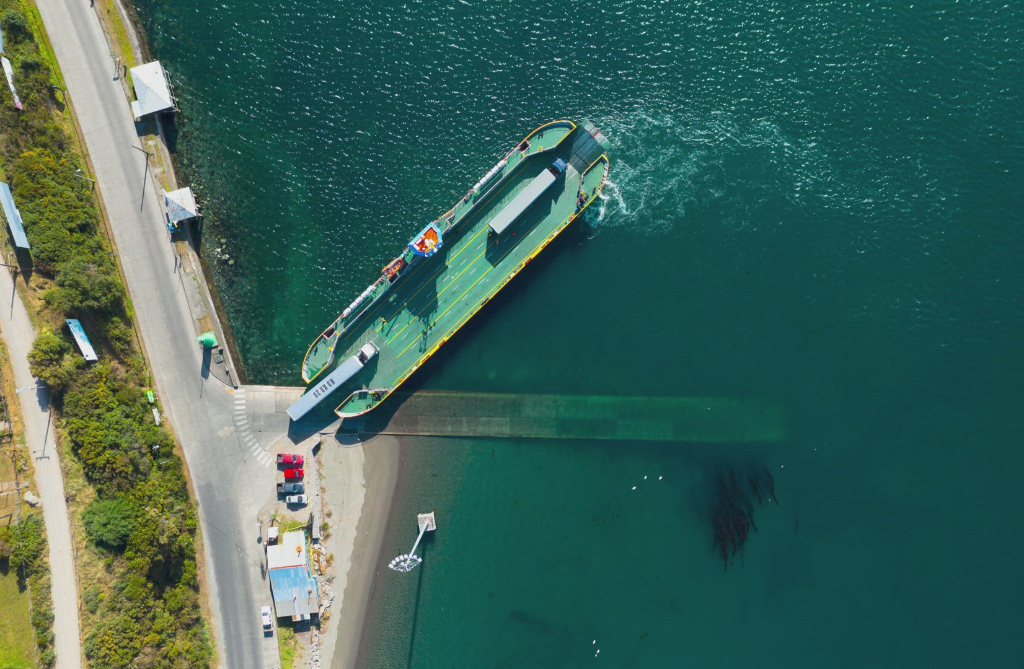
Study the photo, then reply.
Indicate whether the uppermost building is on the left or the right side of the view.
left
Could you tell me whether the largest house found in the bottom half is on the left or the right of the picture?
left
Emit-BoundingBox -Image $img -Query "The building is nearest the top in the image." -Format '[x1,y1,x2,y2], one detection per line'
[129,60,189,120]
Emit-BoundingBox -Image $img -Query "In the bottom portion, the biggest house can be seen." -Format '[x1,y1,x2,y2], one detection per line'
[268,528,322,621]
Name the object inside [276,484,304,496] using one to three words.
vehicle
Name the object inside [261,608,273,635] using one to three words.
vehicle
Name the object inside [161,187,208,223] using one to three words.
building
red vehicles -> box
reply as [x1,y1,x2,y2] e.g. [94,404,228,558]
[276,456,303,467]
[284,470,304,481]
